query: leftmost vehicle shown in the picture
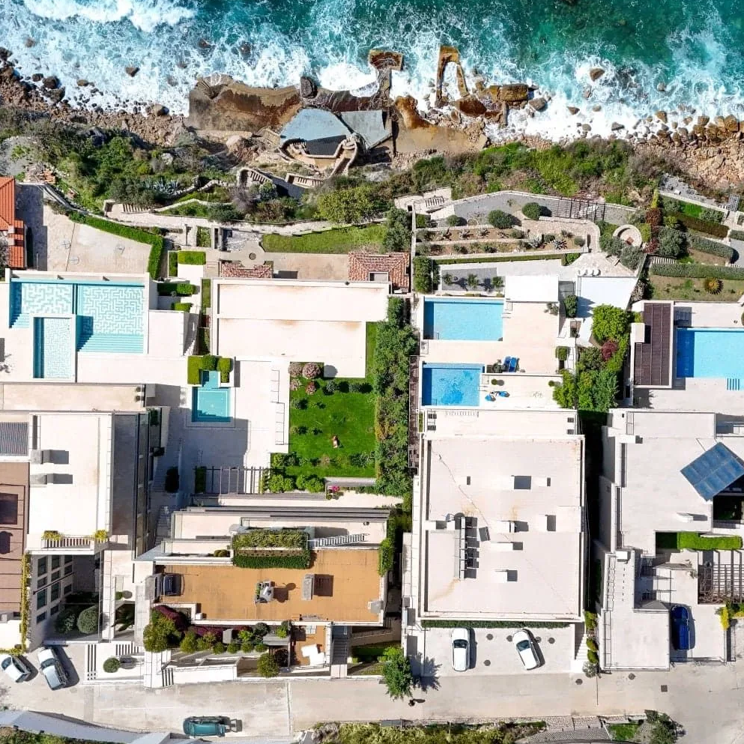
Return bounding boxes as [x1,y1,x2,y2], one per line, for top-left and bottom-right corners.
[0,652,36,687]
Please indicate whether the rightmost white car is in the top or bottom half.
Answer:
bottom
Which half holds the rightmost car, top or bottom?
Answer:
bottom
